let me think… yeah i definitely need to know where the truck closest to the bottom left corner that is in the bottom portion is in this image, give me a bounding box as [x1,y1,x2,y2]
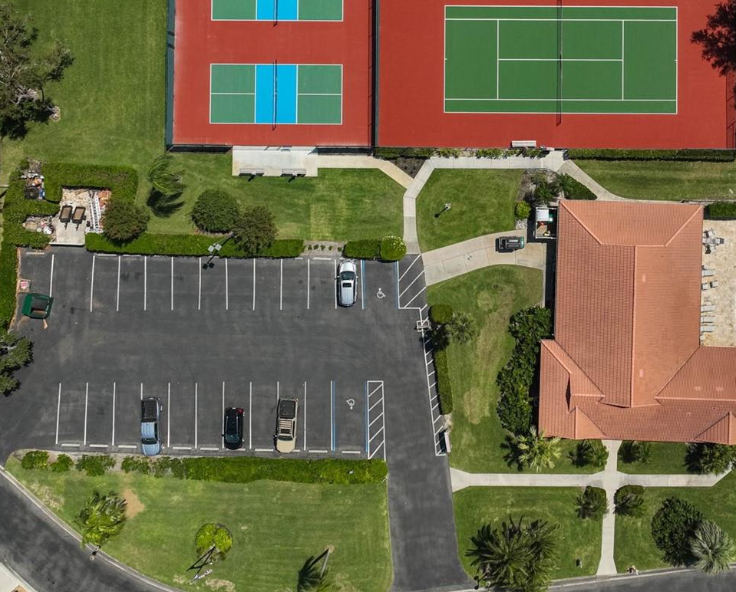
[134,398,161,458]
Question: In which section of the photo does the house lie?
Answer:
right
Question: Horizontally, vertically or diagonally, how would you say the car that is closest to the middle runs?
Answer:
vertically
